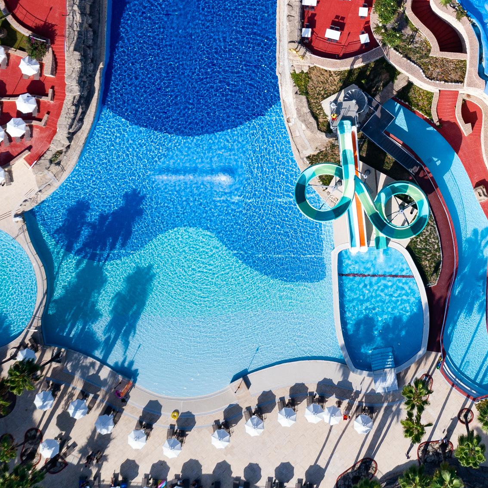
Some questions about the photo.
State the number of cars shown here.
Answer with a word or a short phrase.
0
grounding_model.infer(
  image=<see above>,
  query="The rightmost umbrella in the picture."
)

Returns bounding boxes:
[353,414,373,434]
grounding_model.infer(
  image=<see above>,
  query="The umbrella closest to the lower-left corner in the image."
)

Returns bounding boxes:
[39,437,60,458]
